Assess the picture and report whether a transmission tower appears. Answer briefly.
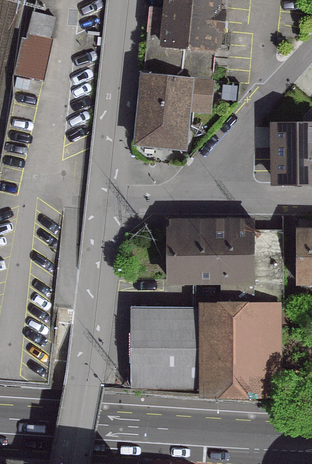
Yes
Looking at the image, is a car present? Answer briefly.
Yes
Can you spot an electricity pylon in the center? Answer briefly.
Yes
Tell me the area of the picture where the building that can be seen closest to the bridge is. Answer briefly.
bottom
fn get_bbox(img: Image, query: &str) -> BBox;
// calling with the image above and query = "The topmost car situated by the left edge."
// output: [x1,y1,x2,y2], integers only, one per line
[13,92,38,104]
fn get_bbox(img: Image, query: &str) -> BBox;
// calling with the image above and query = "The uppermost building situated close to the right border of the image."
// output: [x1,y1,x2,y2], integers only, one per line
[270,120,312,186]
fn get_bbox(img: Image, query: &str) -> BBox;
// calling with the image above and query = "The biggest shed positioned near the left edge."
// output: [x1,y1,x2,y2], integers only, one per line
[14,36,53,80]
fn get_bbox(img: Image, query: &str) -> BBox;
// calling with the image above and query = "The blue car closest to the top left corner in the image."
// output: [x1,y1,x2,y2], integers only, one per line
[78,16,100,30]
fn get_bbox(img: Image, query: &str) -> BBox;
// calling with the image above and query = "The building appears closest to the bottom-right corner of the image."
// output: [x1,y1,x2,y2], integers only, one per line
[198,302,284,398]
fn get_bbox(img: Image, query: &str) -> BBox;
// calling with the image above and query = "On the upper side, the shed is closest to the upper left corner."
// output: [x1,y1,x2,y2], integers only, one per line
[28,10,56,38]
